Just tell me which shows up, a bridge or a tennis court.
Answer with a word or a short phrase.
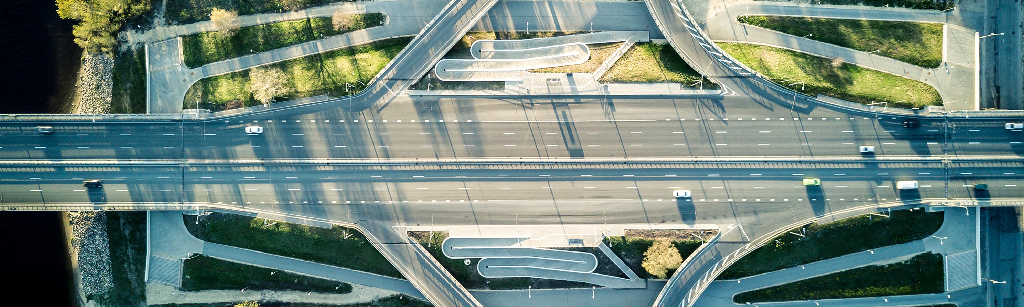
bridge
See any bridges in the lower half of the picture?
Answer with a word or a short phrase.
Yes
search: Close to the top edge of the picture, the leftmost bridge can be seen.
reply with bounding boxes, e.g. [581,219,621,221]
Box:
[376,0,499,80]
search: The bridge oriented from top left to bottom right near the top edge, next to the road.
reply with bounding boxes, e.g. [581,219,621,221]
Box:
[644,0,757,78]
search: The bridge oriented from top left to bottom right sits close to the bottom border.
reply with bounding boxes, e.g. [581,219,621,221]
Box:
[372,242,484,307]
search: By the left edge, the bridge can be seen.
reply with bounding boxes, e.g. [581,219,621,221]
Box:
[0,113,188,211]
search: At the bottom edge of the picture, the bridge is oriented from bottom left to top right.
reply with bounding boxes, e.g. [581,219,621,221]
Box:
[651,243,762,307]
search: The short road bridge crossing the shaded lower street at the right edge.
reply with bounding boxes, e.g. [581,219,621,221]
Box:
[940,111,1024,207]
